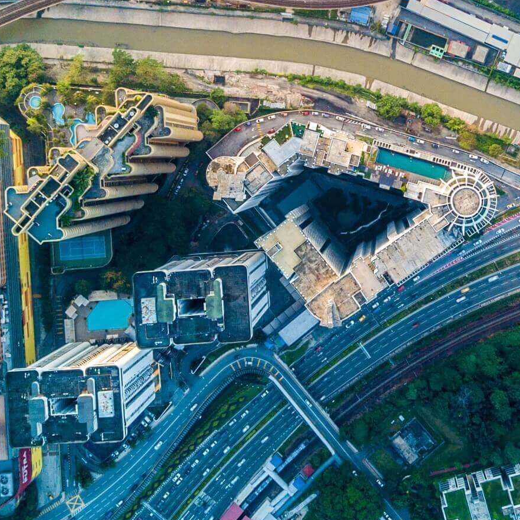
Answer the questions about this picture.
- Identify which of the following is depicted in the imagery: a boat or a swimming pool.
swimming pool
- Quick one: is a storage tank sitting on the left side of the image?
No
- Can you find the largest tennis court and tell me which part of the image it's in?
left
